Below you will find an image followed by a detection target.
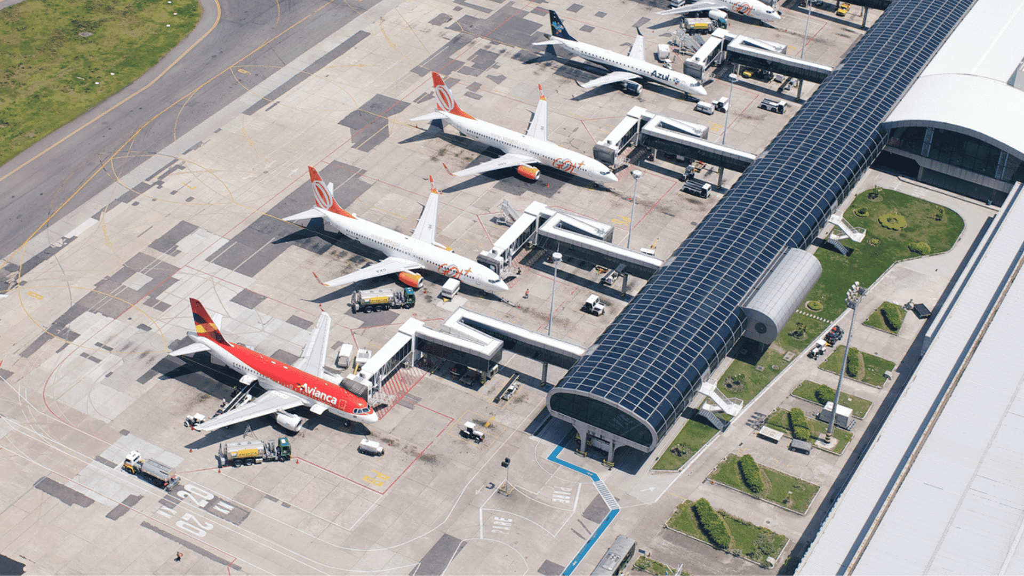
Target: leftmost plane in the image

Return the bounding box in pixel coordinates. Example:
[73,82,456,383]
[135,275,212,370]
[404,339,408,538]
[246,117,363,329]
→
[167,297,380,434]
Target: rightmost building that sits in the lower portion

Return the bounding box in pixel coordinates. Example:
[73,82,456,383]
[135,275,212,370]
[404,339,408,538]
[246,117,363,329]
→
[793,178,1024,576]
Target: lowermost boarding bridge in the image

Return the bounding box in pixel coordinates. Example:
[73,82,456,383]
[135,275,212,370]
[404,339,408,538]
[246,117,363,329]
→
[346,307,587,422]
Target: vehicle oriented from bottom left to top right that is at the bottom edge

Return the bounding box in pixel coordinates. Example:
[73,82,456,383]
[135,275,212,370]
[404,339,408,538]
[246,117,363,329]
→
[588,530,639,576]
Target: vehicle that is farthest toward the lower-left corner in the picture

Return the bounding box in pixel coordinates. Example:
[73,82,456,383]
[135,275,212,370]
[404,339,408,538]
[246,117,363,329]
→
[120,446,184,487]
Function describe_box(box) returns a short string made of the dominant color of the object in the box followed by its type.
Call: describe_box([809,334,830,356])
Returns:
white work vehicle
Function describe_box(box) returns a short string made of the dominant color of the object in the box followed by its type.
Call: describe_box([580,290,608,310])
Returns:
white work vehicle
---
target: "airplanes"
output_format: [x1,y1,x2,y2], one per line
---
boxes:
[281,166,506,296]
[167,297,380,434]
[647,0,780,24]
[410,72,614,188]
[530,10,709,102]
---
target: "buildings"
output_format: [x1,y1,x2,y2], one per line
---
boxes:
[545,0,982,469]
[793,178,1024,576]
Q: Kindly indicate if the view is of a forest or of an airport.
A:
airport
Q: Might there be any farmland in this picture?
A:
No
